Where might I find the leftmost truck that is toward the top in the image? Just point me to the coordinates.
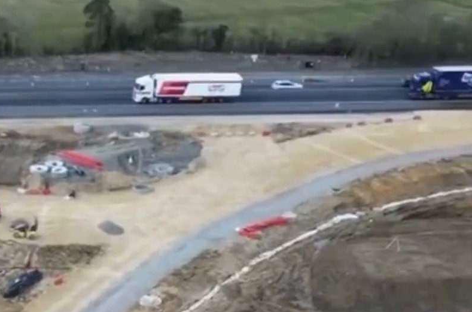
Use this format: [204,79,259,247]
[135,70,247,104]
